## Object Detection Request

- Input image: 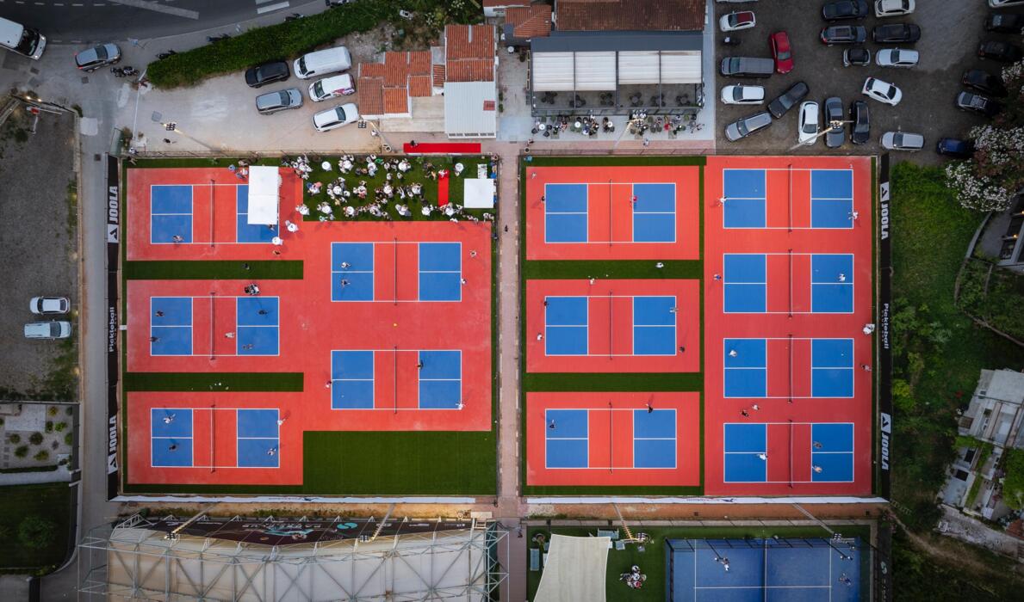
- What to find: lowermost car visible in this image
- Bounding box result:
[20,319,73,341]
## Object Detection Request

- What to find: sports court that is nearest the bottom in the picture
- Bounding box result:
[666,539,878,602]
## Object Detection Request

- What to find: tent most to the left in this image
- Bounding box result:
[247,166,288,227]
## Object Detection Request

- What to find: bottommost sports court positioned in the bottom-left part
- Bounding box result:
[127,391,303,485]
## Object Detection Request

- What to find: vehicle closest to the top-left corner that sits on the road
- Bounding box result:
[0,20,49,57]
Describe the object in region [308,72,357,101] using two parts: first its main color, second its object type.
white van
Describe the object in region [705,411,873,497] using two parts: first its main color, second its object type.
red sports court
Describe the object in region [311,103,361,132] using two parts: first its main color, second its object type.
white car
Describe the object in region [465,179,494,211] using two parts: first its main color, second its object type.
white tent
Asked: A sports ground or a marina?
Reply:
sports ground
